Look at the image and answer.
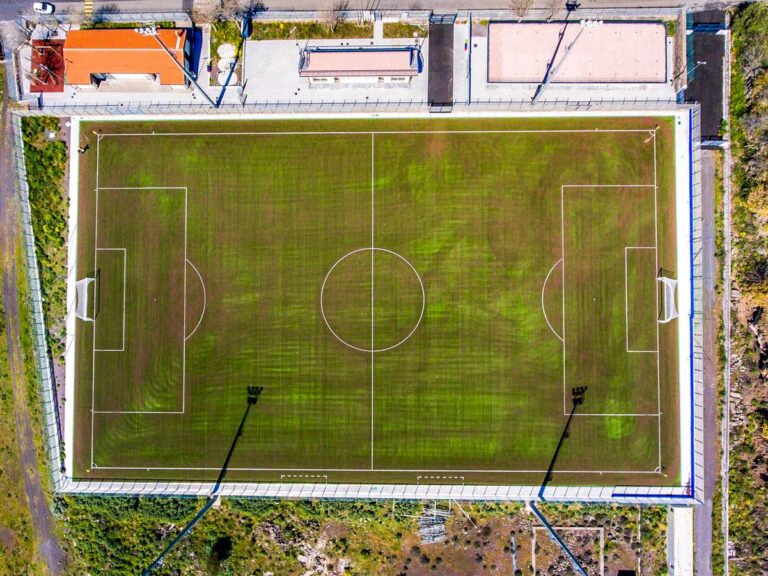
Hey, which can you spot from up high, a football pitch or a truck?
football pitch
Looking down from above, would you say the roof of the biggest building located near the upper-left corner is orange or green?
orange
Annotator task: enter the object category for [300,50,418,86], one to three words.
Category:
building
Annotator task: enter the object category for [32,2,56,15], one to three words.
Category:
vehicle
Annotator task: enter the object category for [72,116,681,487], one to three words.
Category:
soccer field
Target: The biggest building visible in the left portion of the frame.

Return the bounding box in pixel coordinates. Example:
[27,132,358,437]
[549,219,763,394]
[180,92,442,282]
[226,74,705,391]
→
[62,28,194,100]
